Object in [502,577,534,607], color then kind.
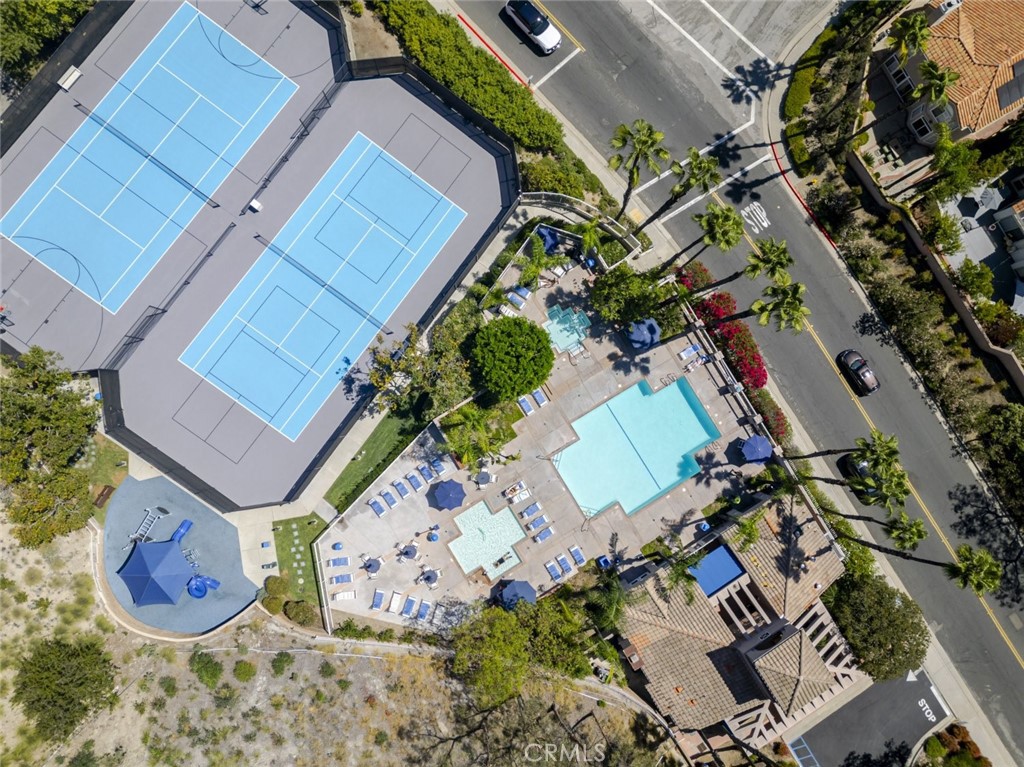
blue umbrella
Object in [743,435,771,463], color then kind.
blue umbrella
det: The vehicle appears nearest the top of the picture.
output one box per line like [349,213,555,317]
[506,0,559,53]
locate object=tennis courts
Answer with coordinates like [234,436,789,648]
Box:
[120,74,515,506]
[0,0,351,372]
